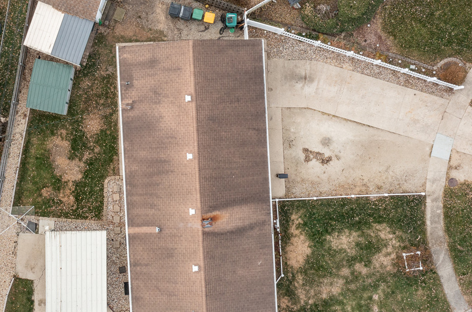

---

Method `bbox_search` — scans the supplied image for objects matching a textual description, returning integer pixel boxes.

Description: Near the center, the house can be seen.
[115,38,280,312]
